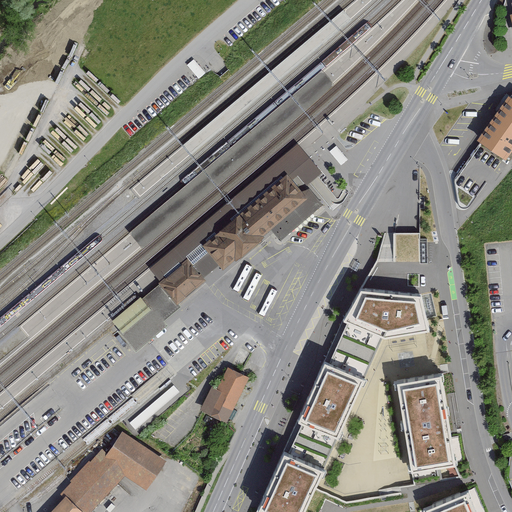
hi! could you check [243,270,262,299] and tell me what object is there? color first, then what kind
white vehicle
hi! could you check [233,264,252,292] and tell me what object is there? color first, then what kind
white vehicle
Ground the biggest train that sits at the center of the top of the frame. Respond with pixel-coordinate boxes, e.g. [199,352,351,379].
[179,22,368,184]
